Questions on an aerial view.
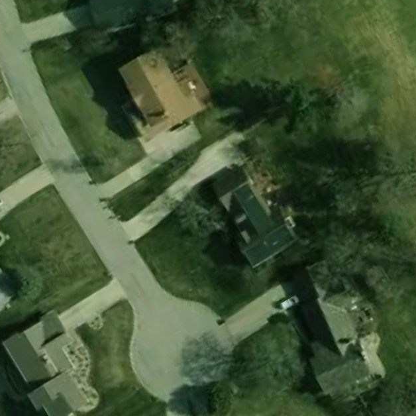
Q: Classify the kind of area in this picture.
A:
residential area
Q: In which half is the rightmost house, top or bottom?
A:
bottom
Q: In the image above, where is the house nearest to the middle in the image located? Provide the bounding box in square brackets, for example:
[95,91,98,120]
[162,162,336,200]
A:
[213,168,297,270]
